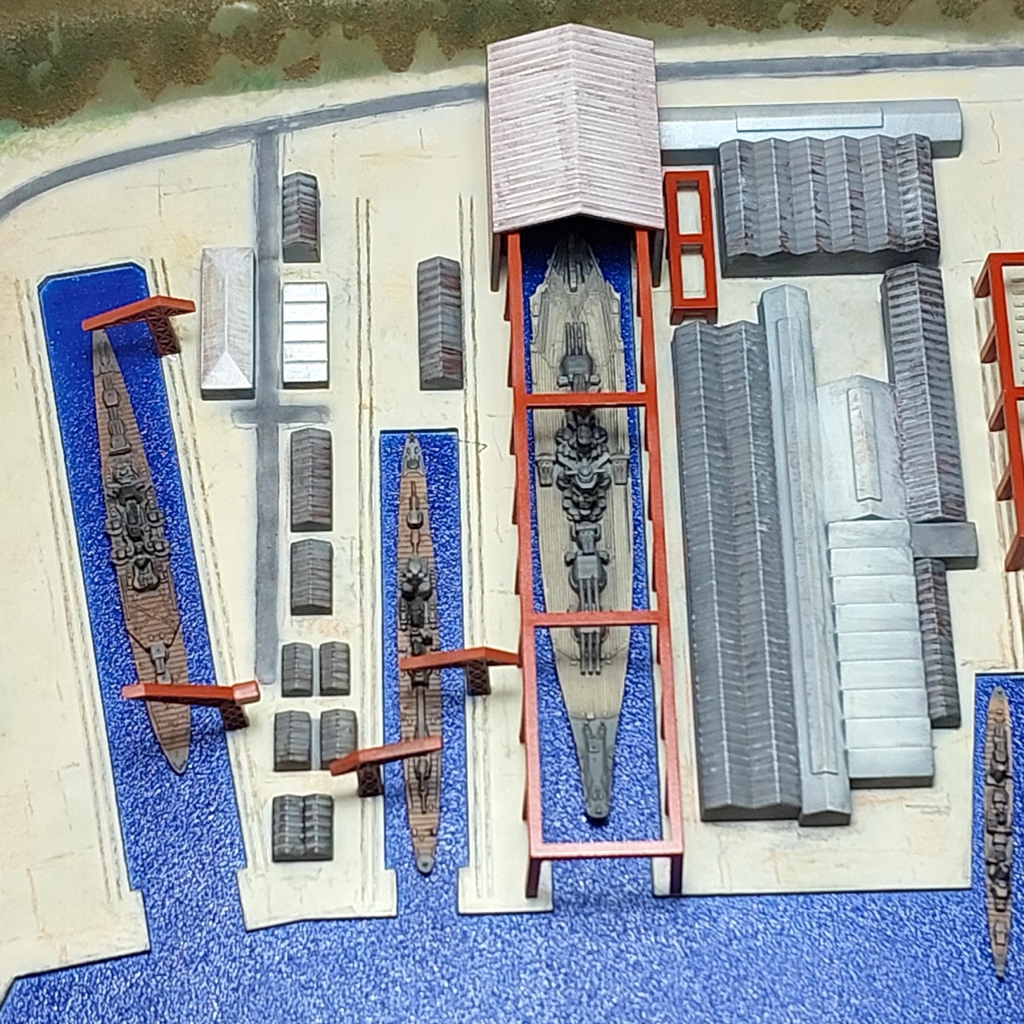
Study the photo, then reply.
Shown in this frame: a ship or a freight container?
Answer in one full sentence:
Of the two, only a ship appears.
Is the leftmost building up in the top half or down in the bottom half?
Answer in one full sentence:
It is in the top half that the leftmost building appears.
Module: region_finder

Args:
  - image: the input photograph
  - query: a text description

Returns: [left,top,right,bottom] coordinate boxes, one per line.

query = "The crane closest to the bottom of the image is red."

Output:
[331,739,442,804]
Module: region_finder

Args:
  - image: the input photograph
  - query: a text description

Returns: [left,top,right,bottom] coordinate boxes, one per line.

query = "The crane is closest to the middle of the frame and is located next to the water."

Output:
[400,648,520,701]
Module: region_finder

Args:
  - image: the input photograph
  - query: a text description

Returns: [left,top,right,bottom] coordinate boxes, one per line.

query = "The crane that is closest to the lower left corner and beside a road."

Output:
[122,683,260,735]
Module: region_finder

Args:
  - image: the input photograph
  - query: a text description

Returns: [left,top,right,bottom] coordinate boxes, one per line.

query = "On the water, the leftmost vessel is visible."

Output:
[93,326,191,775]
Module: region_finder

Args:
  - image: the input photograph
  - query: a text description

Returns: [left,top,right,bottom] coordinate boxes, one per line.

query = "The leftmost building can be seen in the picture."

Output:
[201,247,254,399]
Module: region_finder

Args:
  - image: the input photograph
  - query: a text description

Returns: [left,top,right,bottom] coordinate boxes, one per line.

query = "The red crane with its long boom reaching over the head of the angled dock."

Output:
[82,297,196,364]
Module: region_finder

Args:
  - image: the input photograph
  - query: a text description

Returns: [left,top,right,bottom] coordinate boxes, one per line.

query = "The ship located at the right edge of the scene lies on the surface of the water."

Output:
[984,687,1013,977]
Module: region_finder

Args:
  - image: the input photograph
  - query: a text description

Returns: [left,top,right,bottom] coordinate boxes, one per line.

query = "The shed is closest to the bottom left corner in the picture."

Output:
[273,795,333,860]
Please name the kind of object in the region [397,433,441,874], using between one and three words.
vessel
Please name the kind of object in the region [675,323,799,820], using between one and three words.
building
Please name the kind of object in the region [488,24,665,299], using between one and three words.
shed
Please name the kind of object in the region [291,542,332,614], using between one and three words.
shed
